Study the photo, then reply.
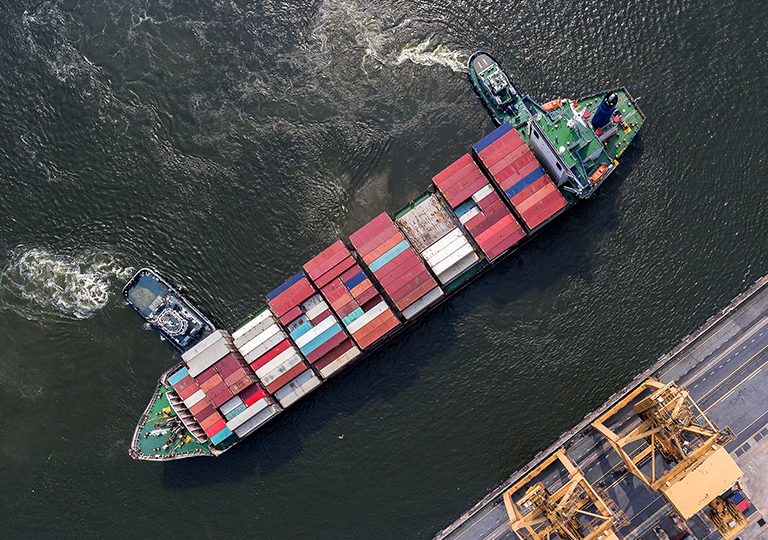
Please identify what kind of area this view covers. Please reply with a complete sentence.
The picture captures a port.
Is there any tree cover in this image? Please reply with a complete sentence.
No, the scene doesn't show any tree cover.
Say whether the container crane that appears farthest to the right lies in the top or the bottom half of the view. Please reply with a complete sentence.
You can find the container crane that appears farthest to the right in the bottom half.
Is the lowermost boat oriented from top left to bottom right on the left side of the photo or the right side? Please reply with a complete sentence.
You can find the lowermost boat oriented from top left to bottom right on the left side of the picture.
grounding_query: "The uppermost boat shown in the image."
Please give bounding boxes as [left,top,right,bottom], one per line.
[466,48,528,128]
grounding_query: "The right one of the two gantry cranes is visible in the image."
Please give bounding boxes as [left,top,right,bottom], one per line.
[590,377,751,540]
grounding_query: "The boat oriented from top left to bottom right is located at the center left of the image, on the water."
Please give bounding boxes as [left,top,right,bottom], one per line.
[122,268,212,352]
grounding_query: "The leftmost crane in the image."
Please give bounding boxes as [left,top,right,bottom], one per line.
[502,447,628,540]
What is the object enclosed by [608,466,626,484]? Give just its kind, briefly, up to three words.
work vehicle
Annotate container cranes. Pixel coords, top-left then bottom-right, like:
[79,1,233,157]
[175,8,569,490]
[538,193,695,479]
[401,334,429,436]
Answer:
[590,377,751,540]
[502,447,628,540]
